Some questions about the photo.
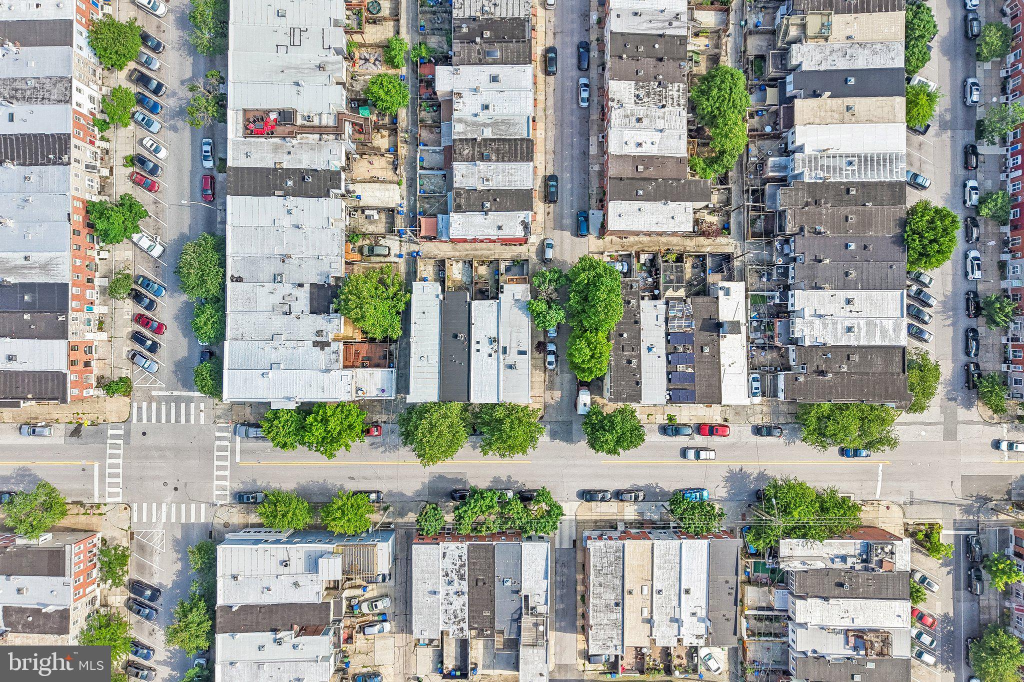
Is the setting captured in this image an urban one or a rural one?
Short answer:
urban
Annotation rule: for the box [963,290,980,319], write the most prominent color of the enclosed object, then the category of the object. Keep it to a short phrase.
black car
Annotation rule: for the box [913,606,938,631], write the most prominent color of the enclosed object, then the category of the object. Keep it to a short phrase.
red car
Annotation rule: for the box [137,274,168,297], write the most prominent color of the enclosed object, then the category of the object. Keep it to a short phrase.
blue car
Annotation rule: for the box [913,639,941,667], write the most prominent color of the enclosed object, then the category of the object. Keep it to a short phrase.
white van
